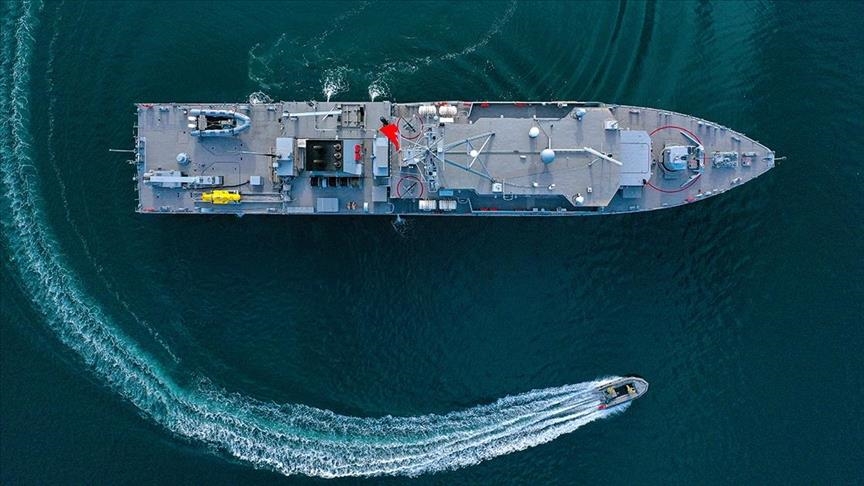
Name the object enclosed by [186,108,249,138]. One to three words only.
boat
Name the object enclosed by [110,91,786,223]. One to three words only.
ship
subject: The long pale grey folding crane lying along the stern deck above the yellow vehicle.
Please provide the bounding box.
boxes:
[145,169,251,190]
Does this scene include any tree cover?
No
